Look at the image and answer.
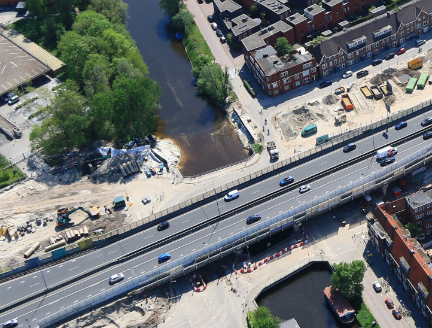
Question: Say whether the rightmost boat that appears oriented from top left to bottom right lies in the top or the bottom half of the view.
bottom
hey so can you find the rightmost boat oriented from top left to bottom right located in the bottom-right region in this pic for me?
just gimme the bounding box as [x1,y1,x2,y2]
[320,284,359,328]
